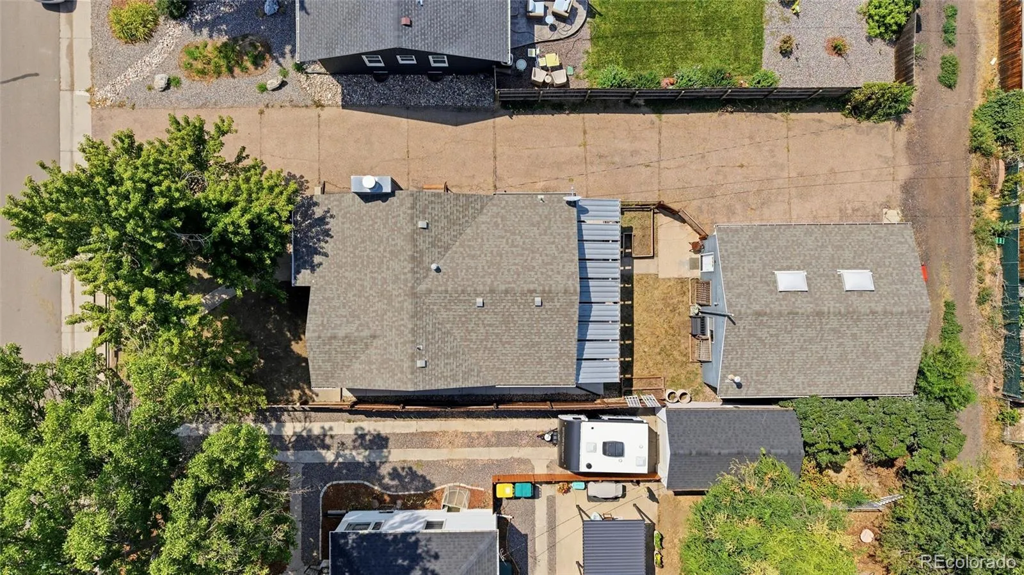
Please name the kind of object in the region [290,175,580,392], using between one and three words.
house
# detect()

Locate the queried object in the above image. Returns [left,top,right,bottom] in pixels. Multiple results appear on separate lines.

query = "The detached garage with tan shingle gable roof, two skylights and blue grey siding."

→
[700,222,931,400]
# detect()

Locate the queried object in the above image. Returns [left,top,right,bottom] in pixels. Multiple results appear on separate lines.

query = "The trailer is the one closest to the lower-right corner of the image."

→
[536,411,649,474]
